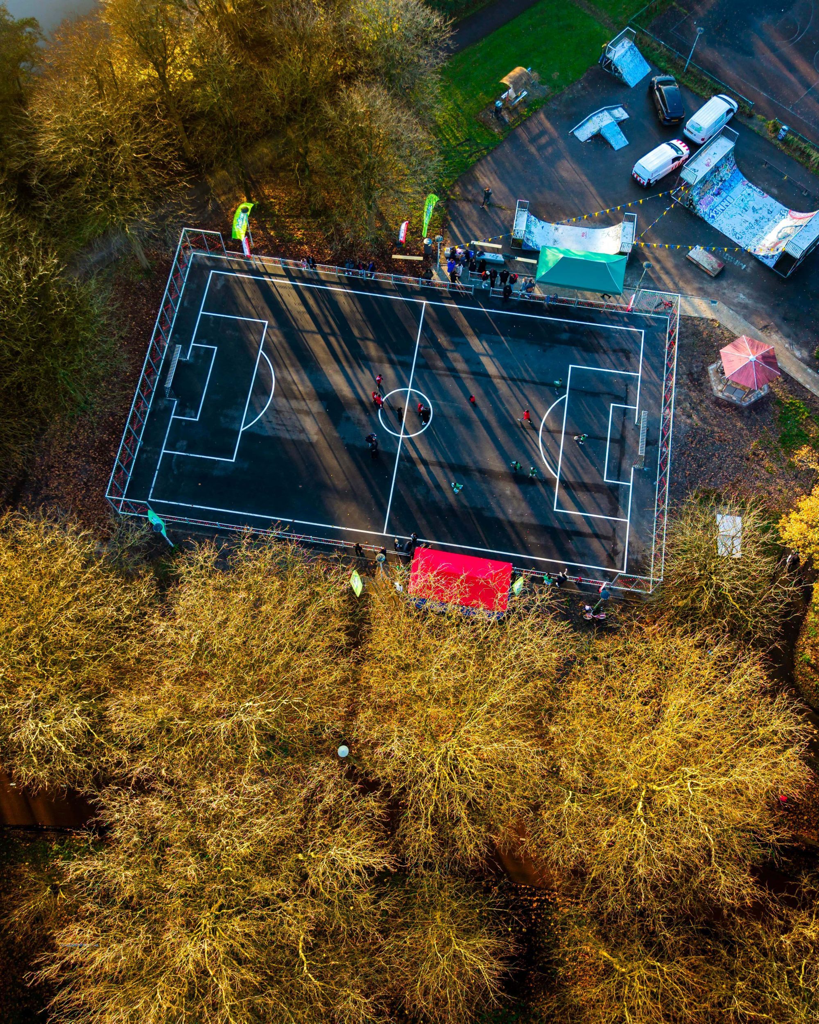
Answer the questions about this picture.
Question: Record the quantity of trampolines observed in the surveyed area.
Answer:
zero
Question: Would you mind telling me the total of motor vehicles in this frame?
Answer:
3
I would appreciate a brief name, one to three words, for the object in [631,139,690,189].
van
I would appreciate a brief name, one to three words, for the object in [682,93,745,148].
van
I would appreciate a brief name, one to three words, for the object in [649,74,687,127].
car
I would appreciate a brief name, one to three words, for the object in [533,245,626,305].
gazebo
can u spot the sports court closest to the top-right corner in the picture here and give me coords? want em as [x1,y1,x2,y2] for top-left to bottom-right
[647,0,819,150]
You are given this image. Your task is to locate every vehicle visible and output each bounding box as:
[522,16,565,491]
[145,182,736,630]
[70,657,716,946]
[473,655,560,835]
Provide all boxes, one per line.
[631,139,690,189]
[682,93,745,148]
[649,74,687,127]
